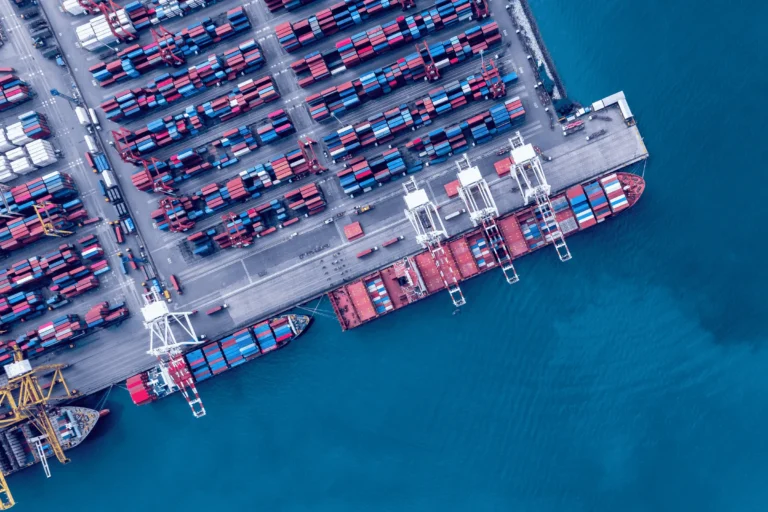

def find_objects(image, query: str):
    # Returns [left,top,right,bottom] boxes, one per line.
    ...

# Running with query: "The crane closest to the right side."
[508,123,578,260]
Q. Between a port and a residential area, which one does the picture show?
port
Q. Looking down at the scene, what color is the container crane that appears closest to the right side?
white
